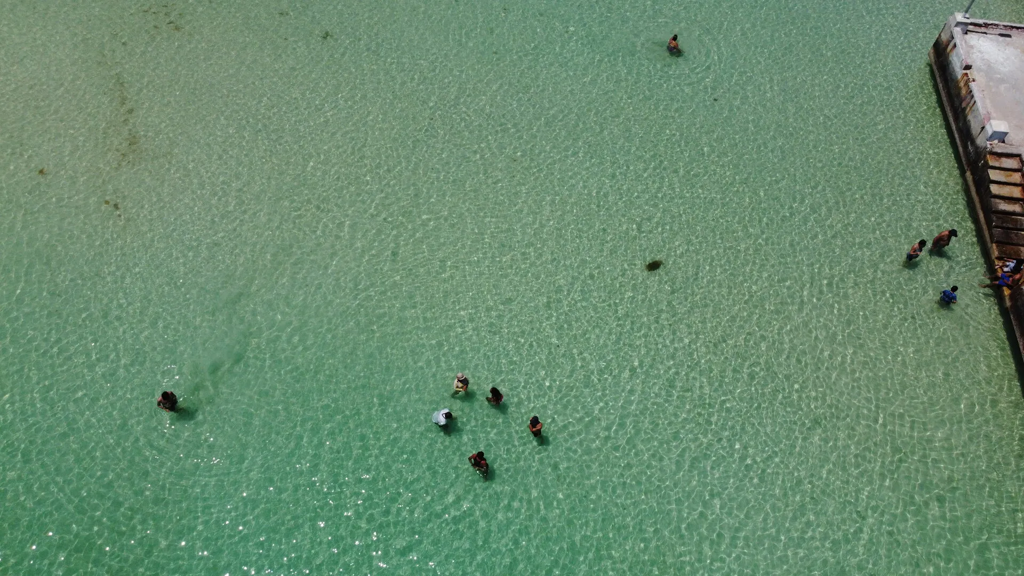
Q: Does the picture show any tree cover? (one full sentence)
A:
No, tree cover can't be seen anywhere here.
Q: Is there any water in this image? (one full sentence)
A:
Yes, there is water in the image.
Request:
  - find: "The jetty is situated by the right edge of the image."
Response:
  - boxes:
[927,11,1024,370]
